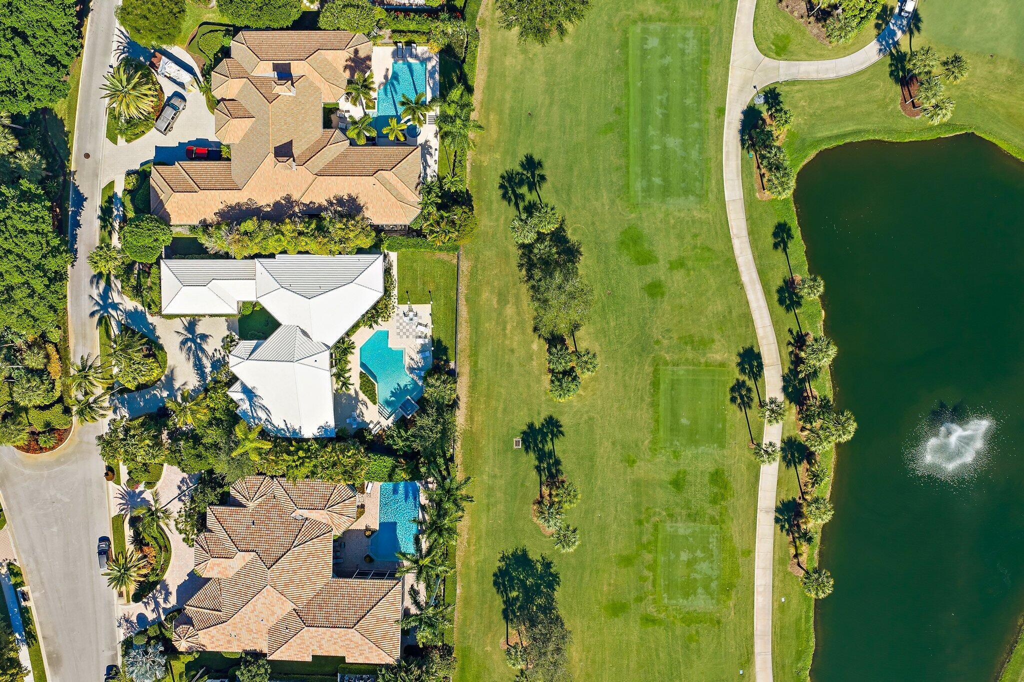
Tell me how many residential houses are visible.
three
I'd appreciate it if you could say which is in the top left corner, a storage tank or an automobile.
automobile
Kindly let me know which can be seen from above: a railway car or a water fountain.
water fountain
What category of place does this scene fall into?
golf course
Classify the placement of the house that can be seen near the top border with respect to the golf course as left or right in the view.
to the left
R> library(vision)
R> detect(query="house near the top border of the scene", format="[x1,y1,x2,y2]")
[151,30,422,224]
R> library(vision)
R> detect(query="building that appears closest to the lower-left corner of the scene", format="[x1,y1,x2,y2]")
[170,476,401,664]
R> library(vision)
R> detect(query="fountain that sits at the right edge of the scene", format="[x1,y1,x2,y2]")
[895,402,1017,482]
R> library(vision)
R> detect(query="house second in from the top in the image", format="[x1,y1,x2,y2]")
[160,254,384,437]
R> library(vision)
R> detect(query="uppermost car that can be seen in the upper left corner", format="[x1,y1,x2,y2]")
[155,94,188,137]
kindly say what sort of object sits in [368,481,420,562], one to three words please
swimming pool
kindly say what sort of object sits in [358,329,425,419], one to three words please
swimming pool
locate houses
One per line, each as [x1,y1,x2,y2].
[170,476,401,664]
[160,254,384,437]
[151,30,422,224]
